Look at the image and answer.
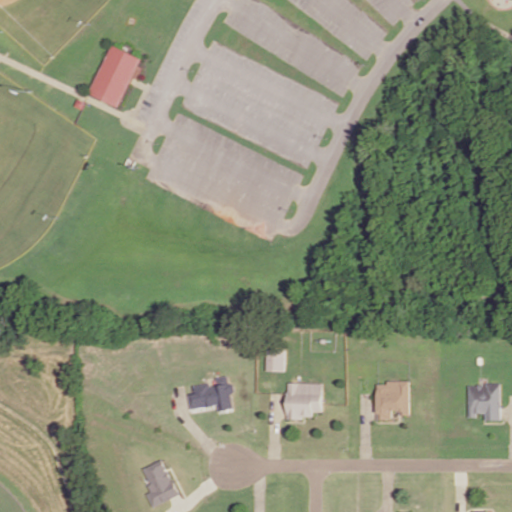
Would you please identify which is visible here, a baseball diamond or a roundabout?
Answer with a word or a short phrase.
baseball diamond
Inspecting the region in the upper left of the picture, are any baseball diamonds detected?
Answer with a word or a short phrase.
Yes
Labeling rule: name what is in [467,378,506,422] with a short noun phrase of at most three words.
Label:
house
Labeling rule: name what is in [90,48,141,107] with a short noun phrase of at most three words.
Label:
building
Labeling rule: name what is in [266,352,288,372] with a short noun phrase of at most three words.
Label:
shed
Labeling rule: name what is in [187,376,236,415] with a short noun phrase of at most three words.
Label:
house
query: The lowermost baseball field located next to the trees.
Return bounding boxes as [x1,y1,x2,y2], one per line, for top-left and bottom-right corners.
[0,72,96,268]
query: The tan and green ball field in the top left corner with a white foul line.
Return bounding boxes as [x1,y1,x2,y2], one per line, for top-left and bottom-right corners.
[0,0,109,67]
